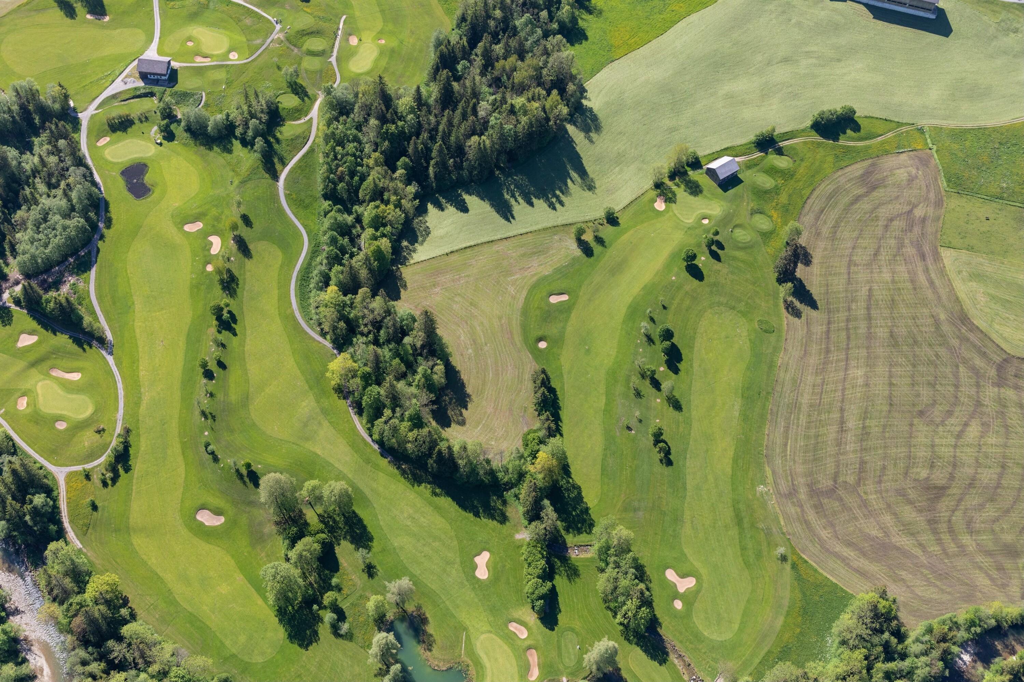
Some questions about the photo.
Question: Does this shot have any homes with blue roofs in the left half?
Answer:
No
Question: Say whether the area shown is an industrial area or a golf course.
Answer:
golf course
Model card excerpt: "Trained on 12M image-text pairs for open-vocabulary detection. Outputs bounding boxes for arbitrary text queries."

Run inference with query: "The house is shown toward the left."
[136,54,173,82]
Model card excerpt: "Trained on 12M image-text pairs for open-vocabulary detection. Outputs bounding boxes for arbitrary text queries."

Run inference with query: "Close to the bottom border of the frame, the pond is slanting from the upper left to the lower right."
[392,616,467,682]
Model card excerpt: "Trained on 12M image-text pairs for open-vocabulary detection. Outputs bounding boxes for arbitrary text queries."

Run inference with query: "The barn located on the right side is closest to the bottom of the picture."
[706,155,740,184]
